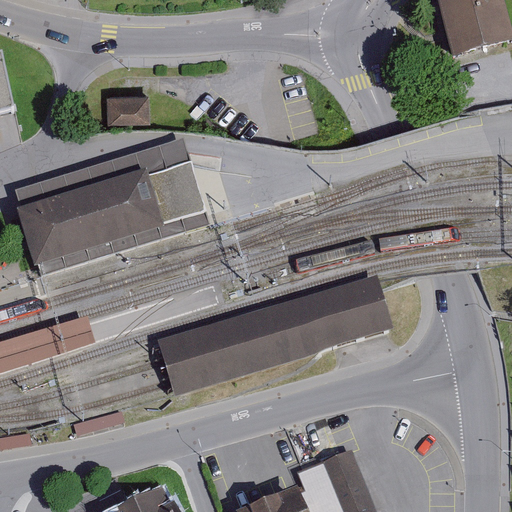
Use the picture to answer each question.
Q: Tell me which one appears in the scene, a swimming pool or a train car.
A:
train car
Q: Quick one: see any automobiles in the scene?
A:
Yes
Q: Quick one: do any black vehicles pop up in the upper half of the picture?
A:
Yes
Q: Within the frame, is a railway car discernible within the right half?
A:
Yes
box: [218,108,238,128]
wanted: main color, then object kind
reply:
white car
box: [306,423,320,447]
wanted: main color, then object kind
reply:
white vehicle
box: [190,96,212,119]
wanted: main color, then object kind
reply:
white vehicle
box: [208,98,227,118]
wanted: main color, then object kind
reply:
black car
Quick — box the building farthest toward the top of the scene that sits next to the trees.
[438,0,512,56]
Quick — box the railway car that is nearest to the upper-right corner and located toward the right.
[377,226,460,254]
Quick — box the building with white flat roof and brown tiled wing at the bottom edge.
[298,450,376,512]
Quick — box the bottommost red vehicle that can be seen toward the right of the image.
[416,434,436,456]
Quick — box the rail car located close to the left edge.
[0,298,49,324]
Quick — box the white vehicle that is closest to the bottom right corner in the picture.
[395,418,410,440]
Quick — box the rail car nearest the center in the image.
[294,242,376,274]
